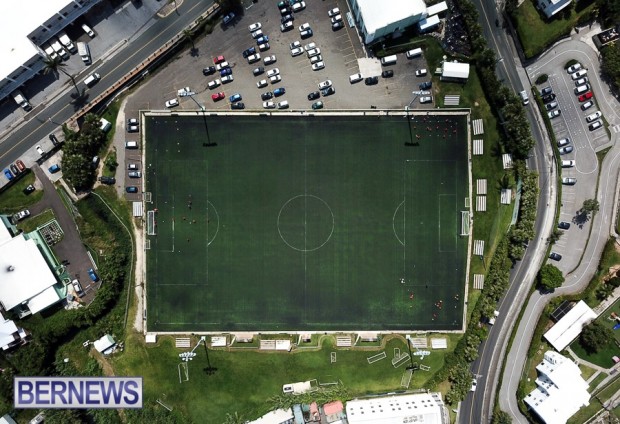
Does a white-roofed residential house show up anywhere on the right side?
Yes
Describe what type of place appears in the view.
sports ground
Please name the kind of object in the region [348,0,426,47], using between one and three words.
building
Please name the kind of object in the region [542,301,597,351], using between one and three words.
house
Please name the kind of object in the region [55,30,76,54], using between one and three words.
vehicle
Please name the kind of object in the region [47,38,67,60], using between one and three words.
vehicle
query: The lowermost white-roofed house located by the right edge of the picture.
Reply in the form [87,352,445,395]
[515,346,591,424]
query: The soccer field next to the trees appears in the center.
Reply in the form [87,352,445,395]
[147,115,466,330]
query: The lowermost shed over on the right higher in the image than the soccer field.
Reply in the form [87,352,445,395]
[441,62,470,81]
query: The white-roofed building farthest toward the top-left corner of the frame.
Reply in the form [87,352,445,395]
[0,0,105,104]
